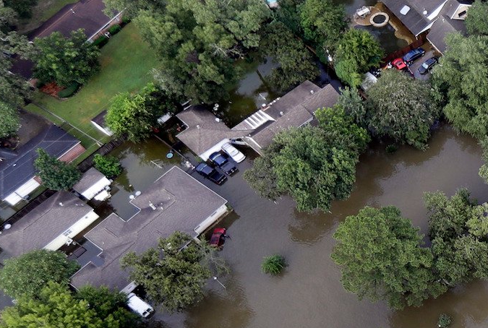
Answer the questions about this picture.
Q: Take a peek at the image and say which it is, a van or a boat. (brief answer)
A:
van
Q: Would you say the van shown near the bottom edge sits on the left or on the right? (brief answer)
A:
left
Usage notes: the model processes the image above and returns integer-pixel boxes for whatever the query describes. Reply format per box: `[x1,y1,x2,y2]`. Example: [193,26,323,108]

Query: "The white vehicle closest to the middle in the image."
[220,143,247,165]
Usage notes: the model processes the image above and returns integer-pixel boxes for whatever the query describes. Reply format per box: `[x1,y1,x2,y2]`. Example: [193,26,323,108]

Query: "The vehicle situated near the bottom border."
[124,286,157,322]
